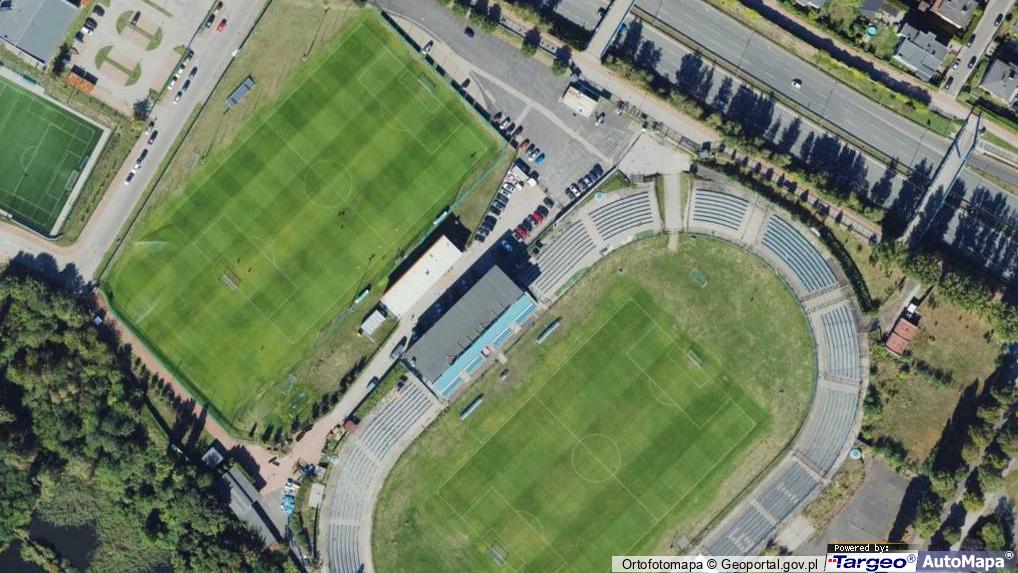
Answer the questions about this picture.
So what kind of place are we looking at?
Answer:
sports ground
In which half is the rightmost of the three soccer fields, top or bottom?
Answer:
bottom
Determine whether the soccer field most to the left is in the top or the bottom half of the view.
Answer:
top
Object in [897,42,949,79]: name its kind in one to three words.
house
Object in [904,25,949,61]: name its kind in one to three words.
house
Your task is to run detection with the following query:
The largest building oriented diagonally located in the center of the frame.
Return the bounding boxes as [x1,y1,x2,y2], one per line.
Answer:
[380,236,463,318]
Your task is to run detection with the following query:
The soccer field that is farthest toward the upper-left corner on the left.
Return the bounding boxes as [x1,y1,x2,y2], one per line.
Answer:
[0,60,110,238]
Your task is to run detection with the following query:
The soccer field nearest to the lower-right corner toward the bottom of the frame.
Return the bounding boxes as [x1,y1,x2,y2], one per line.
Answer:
[372,232,817,573]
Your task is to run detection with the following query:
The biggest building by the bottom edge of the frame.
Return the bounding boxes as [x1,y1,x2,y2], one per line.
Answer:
[217,471,276,551]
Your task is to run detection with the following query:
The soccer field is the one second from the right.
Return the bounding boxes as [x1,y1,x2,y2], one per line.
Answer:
[102,6,507,431]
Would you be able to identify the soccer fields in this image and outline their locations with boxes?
[102,6,507,431]
[372,232,817,573]
[0,60,110,238]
